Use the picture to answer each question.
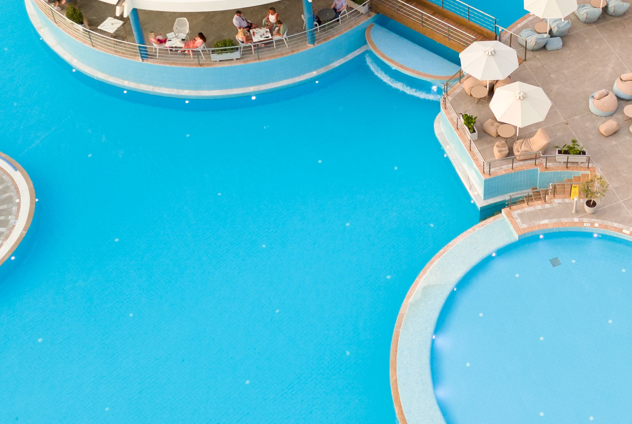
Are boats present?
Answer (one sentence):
No, no boat is visible in the scene.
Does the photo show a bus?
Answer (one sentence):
No, the scene contains no bus.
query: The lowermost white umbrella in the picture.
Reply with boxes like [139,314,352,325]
[491,83,552,139]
